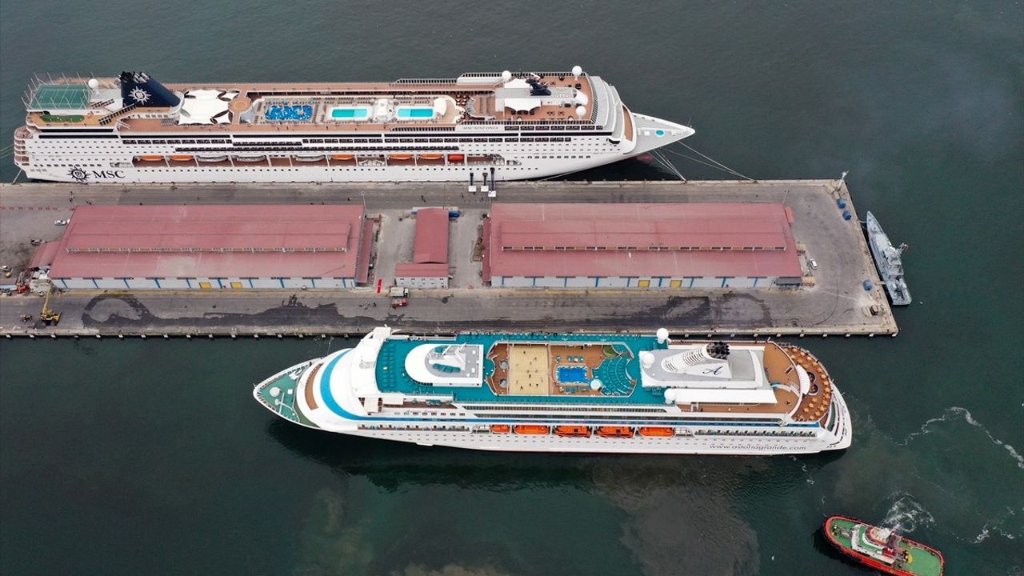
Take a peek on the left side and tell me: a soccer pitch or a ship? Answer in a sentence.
It is a ship that can be seen on the left side.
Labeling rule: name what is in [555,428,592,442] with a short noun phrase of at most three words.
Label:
boat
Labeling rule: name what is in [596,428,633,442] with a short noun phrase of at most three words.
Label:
boat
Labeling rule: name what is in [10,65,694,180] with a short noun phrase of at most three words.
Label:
ship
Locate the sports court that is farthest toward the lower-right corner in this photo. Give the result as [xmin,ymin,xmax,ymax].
[508,350,549,392]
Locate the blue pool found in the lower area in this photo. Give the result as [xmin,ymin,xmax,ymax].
[555,365,591,386]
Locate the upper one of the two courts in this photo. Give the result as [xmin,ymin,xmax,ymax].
[20,72,101,111]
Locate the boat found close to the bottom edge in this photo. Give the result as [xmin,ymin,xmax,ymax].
[822,518,941,576]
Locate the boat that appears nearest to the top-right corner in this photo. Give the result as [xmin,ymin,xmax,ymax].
[865,212,913,311]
